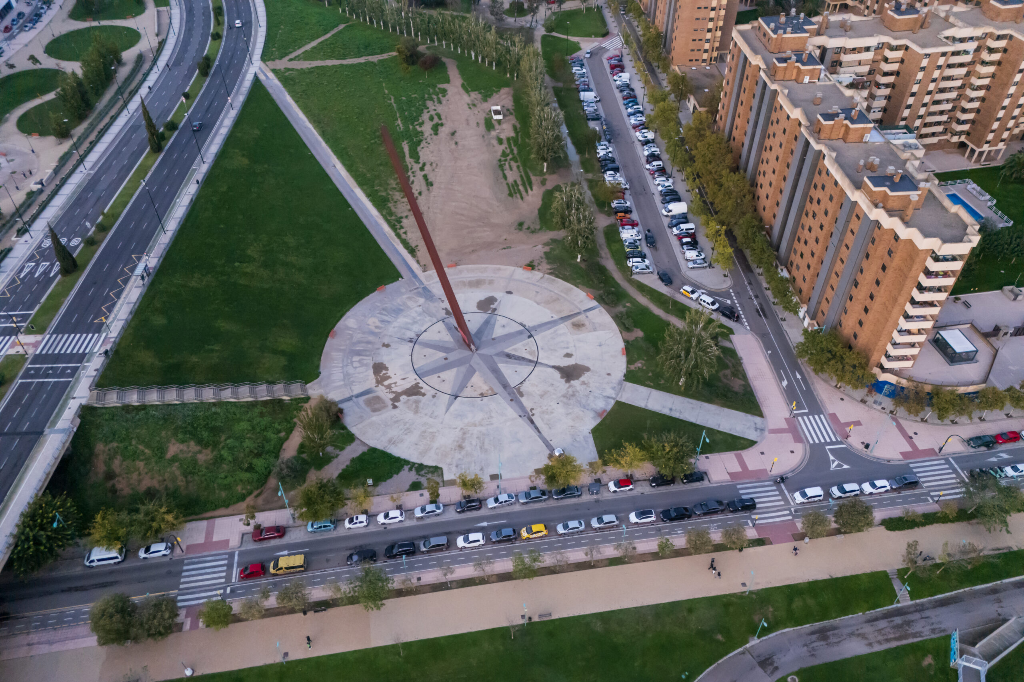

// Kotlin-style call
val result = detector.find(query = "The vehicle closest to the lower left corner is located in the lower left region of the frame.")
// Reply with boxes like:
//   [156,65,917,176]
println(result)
[84,544,127,568]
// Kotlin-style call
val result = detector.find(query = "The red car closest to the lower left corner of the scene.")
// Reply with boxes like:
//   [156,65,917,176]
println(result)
[241,563,271,579]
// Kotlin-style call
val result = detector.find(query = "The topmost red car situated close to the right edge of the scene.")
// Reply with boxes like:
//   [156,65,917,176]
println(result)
[994,431,1022,445]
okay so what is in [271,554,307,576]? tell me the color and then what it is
yellow vehicle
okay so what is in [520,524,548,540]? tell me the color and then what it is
yellow car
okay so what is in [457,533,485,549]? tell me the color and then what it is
white car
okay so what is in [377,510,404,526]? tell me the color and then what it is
white car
